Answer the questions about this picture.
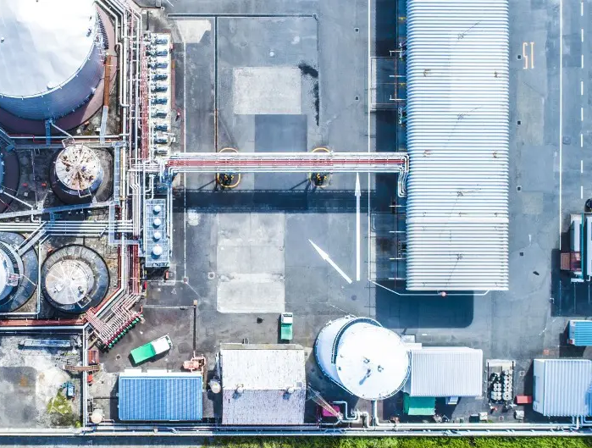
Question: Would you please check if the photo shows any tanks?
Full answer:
Yes, there's a tank down there.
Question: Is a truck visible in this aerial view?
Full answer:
Yes, looking at the shot, I can spot a truck.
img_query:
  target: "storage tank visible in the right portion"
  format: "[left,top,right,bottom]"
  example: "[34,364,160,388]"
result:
[310,313,413,402]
